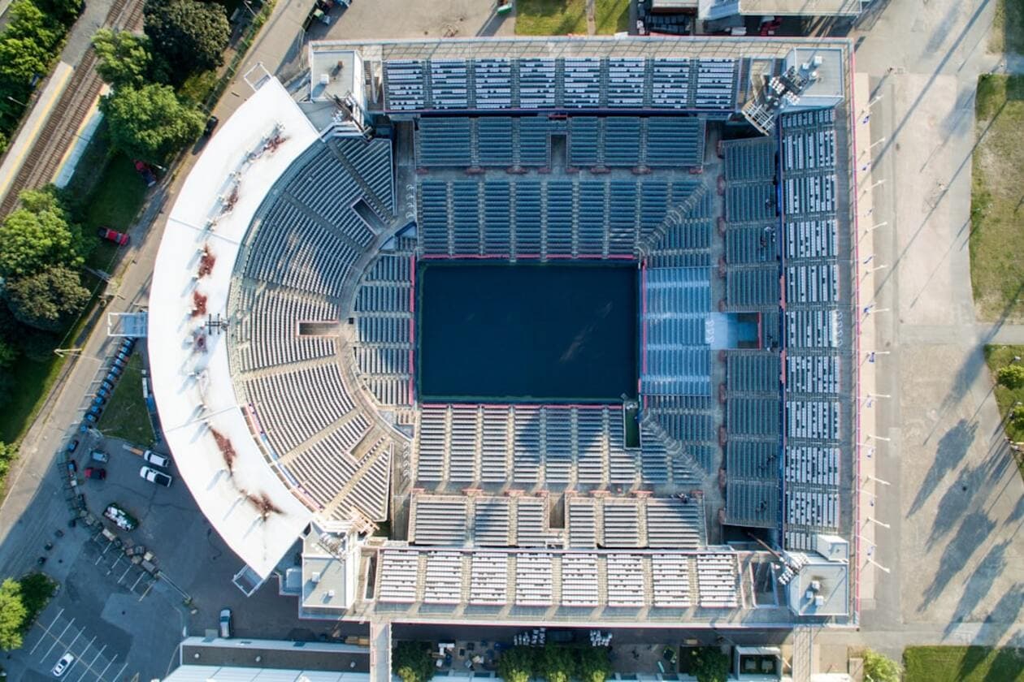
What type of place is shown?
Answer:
sports ground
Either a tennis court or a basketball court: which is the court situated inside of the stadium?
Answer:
tennis court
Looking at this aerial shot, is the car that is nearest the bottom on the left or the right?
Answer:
left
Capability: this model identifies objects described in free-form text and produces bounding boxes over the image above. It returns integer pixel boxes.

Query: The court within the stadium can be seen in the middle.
[416,259,640,405]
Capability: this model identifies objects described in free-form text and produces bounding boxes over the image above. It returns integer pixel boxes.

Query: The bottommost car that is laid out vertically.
[217,609,231,640]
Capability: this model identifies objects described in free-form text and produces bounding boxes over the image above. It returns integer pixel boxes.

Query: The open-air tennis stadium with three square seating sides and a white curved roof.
[107,35,862,634]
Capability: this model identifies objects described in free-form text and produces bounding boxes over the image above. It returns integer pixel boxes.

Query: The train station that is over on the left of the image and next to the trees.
[0,62,116,209]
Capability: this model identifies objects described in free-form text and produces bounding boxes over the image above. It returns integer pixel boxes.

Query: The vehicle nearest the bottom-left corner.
[49,653,73,681]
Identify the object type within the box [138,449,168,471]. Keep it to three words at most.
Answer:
car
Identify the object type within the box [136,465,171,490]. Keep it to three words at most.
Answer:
truck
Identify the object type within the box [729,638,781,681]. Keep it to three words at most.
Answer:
building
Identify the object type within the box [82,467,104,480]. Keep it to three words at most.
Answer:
vehicle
